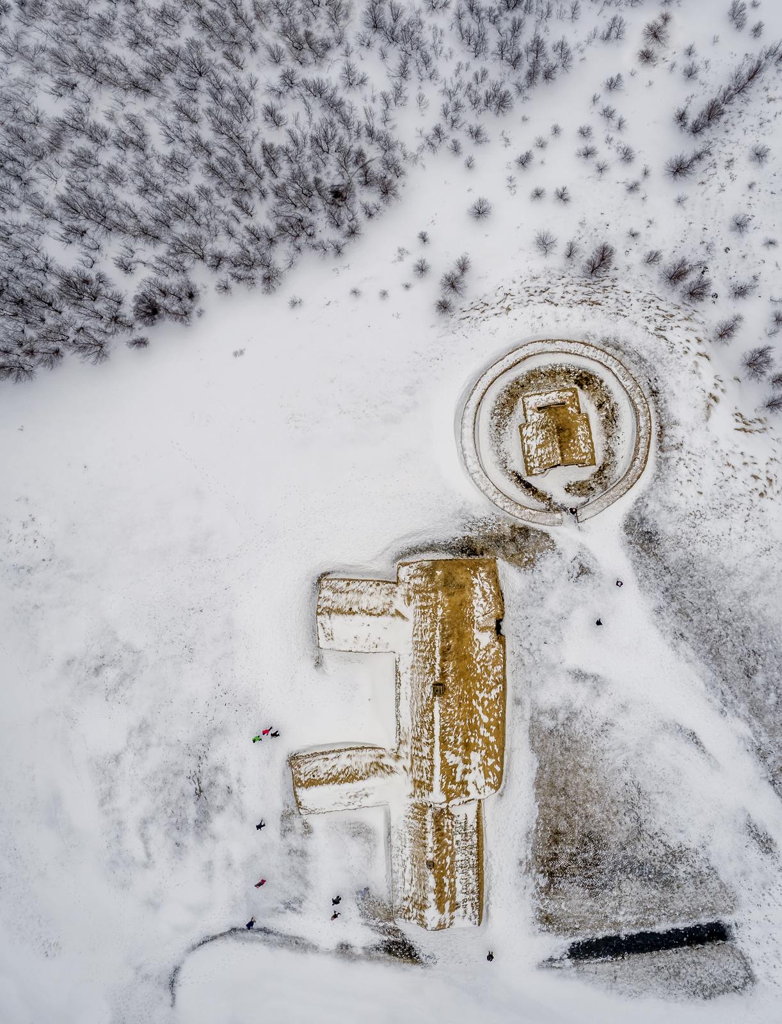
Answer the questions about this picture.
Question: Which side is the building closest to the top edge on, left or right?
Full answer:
The building closest to the top edge sits on the right side.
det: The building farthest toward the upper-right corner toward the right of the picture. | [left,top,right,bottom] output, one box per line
[519,388,596,476]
